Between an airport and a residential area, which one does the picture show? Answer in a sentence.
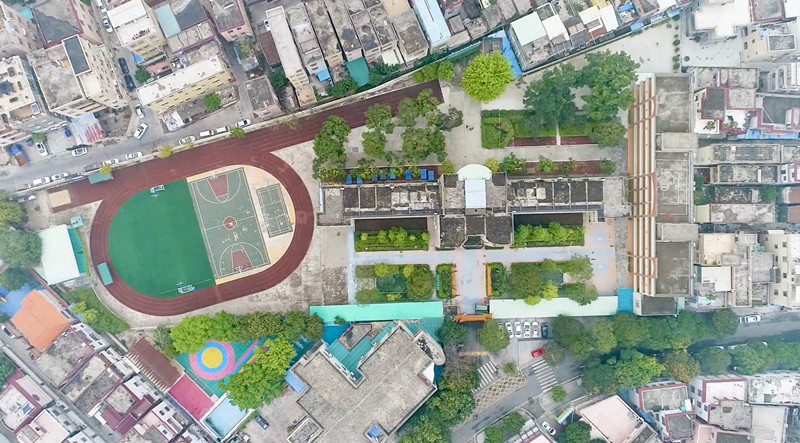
The area seen from above is a residential area.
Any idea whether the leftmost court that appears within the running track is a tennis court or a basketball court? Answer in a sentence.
It turns out the leftmost court that appears within the running track is a basketball court.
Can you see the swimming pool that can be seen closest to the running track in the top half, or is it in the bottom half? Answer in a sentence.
The swimming pool that can be seen closest to the running track sits in the bottom half of the picture.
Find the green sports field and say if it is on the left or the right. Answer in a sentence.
The green sports field appears in the left half of the scene.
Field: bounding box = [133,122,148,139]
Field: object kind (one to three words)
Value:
car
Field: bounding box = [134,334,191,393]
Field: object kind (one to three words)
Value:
shed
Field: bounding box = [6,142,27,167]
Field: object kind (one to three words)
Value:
vehicle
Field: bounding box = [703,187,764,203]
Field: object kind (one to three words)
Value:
house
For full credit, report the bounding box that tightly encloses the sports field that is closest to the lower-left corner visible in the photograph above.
[108,178,212,298]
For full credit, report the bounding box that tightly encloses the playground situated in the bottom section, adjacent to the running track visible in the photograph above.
[179,331,321,403]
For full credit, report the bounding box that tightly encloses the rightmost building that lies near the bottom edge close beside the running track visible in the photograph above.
[297,319,446,443]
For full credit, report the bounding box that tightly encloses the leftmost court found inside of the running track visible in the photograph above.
[186,165,271,283]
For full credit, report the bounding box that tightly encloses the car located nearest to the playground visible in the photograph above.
[255,413,270,430]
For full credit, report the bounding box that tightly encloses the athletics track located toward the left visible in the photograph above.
[48,80,443,316]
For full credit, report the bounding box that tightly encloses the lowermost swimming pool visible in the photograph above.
[201,395,248,441]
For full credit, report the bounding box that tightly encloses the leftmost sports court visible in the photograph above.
[168,373,216,422]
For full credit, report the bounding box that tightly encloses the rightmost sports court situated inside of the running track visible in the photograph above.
[256,184,292,238]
